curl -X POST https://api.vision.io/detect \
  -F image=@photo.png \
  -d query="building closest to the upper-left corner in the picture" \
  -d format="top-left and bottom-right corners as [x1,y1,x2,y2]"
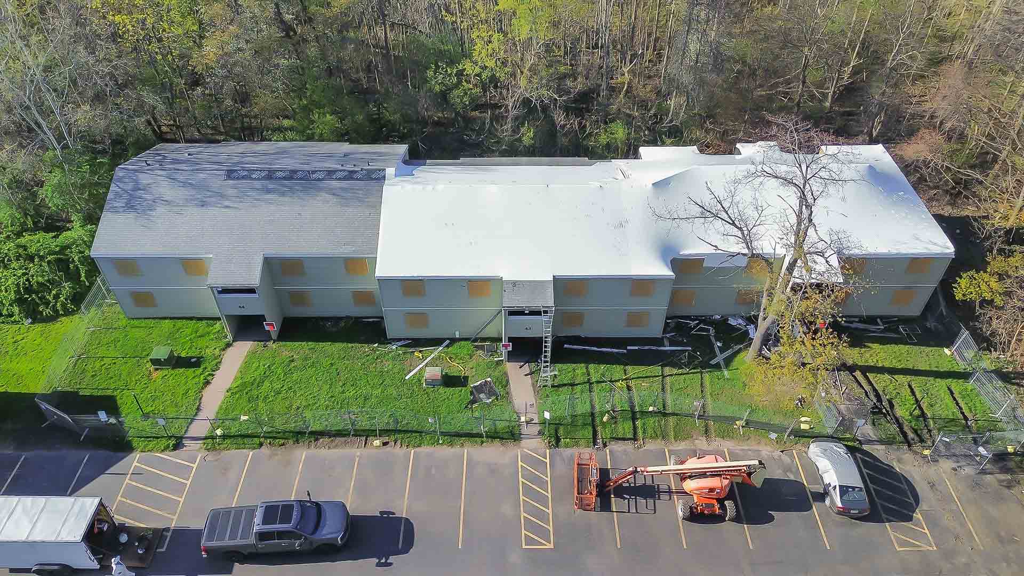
[90,142,405,340]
